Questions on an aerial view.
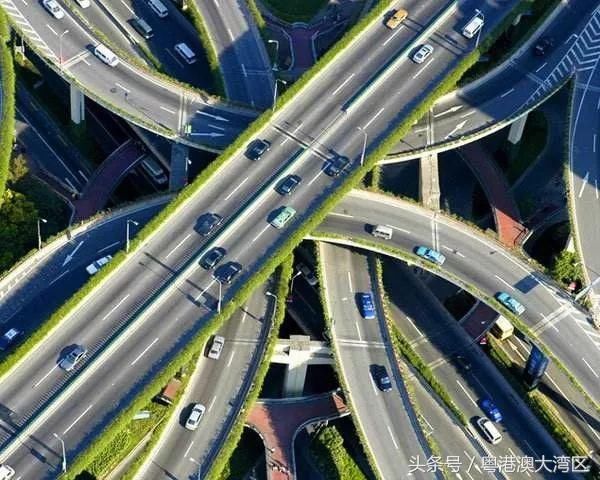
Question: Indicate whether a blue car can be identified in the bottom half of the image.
Yes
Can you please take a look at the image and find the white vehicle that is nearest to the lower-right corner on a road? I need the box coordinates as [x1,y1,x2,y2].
[478,417,503,445]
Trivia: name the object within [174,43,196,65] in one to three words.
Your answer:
vehicle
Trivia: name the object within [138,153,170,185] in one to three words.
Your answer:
vehicle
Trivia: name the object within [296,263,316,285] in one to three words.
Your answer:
car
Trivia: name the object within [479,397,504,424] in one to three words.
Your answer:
car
